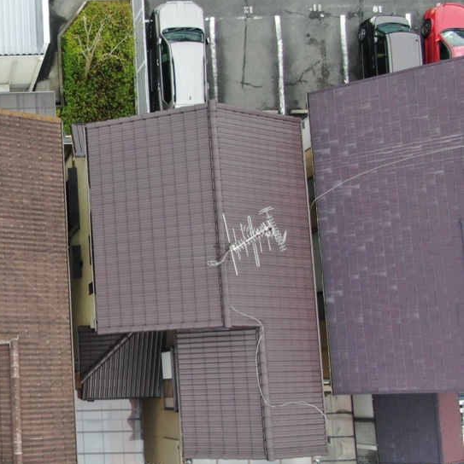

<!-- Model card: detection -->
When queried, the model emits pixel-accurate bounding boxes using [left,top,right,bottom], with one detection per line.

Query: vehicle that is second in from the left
[358,14,421,77]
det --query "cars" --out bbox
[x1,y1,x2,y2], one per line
[358,14,421,77]
[149,3,208,113]
[418,4,464,65]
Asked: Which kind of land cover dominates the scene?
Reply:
buildings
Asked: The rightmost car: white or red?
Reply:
red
